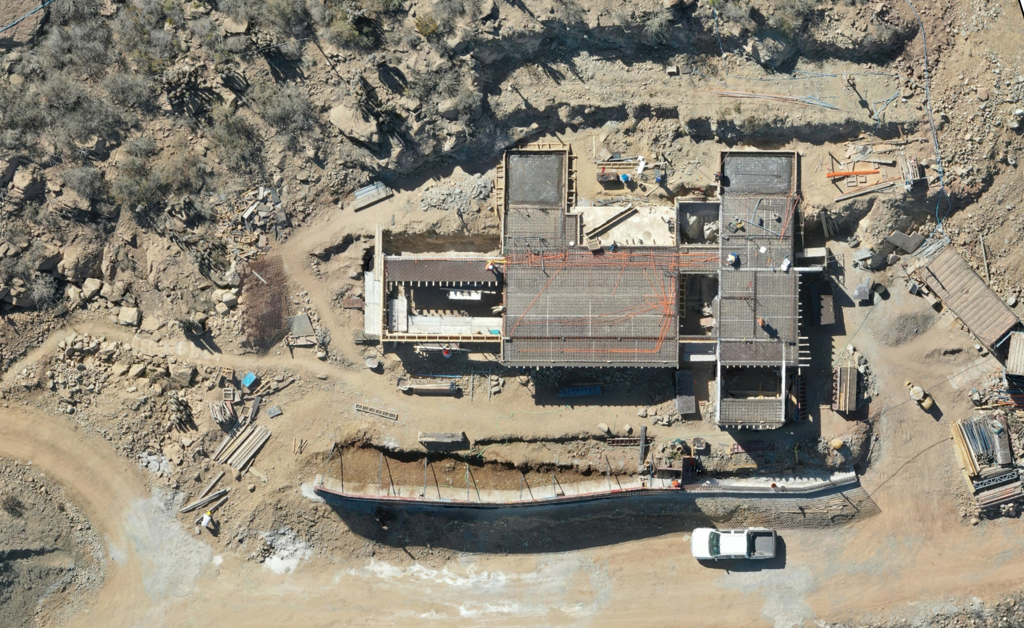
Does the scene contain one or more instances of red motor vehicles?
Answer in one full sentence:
No, no red motor vehicle can be seen from above.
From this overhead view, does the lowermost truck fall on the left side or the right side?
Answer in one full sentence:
It is on the right.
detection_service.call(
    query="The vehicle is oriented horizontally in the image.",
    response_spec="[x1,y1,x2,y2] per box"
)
[692,528,778,564]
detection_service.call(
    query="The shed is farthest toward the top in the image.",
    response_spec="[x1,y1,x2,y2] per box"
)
[915,246,1018,348]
